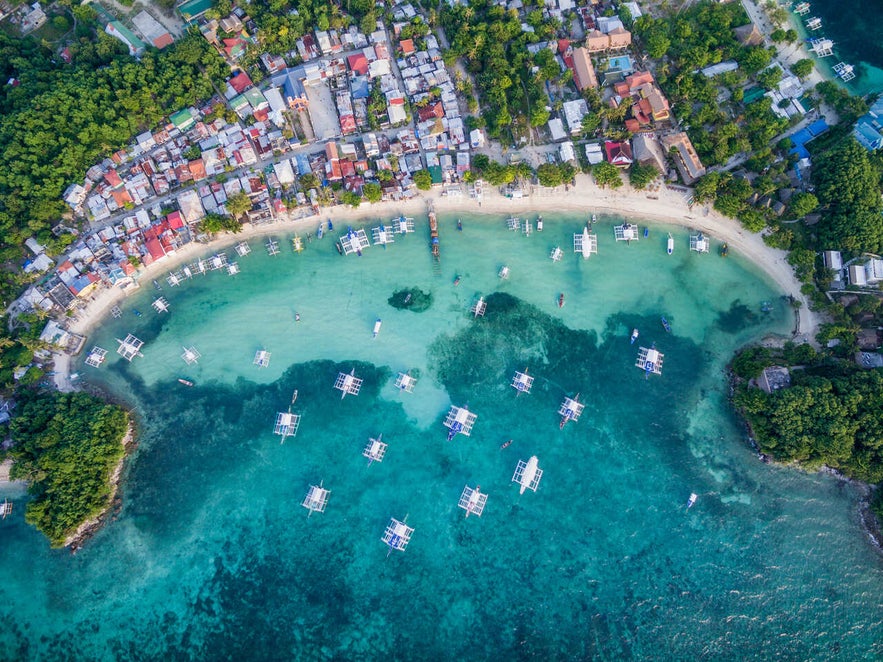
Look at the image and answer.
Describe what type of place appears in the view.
residential area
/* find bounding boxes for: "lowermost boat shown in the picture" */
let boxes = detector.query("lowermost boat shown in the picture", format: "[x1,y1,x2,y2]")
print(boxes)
[379,513,416,555]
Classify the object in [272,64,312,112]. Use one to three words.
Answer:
building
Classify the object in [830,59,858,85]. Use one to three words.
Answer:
boat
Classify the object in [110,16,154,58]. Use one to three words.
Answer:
house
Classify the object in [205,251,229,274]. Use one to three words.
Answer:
boat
